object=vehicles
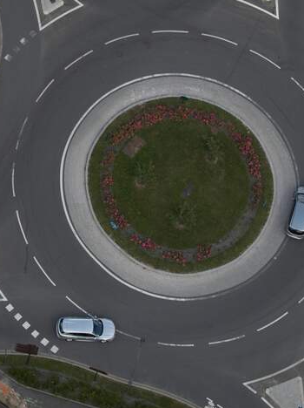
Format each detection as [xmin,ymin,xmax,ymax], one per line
[55,316,115,345]
[286,187,304,242]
